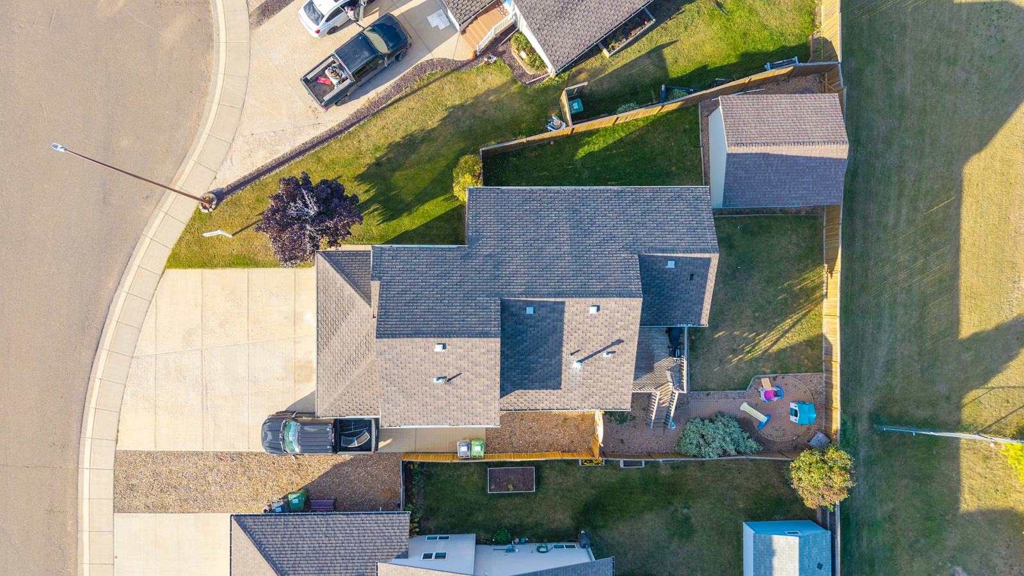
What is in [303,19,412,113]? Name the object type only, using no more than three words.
truck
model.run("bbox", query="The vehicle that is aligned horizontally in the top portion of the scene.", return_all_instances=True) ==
[298,0,382,41]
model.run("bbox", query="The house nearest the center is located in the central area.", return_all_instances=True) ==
[314,184,718,428]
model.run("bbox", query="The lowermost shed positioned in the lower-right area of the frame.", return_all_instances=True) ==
[743,524,830,576]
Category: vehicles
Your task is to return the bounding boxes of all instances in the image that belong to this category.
[263,412,382,461]
[303,19,412,113]
[298,0,382,41]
